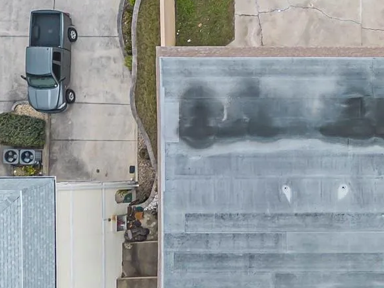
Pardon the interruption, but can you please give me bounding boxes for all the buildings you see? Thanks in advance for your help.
[156,45,384,288]
[0,177,135,288]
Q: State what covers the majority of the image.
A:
buildings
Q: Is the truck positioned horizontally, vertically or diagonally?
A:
vertically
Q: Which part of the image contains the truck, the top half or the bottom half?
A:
top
